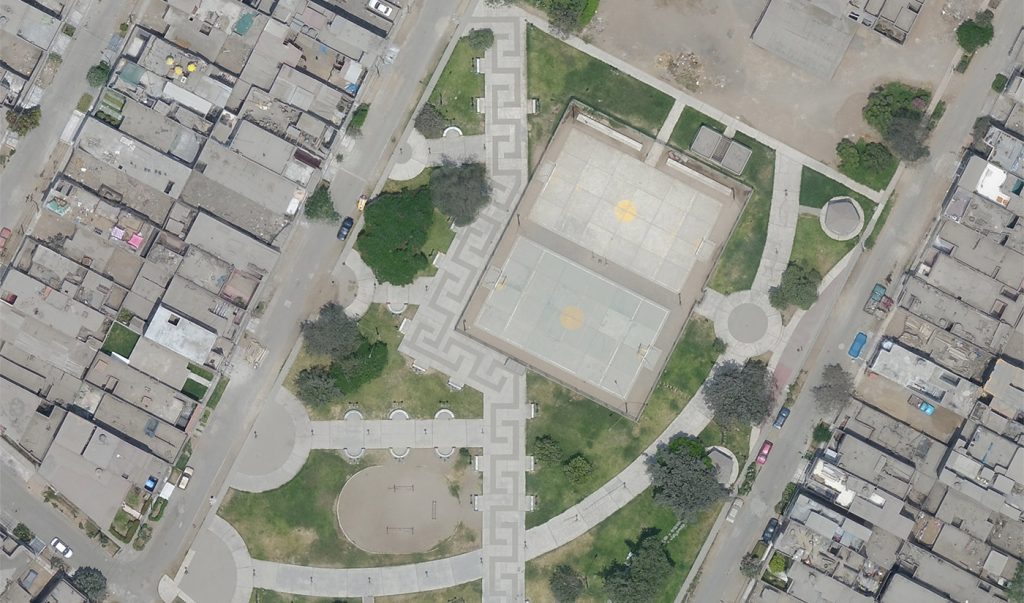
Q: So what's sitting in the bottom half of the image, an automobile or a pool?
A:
automobile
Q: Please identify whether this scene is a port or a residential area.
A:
residential area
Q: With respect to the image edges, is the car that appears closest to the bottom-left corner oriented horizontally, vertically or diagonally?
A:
diagonally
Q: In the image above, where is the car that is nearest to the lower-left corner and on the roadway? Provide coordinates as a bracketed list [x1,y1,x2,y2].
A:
[48,536,74,560]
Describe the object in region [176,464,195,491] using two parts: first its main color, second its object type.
white car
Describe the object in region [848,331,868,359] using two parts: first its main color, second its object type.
blue car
